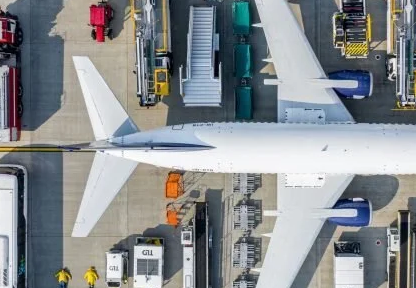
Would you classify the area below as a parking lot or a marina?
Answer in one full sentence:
This looks like a parking lot.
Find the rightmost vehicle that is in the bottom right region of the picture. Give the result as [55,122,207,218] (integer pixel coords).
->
[387,210,416,288]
